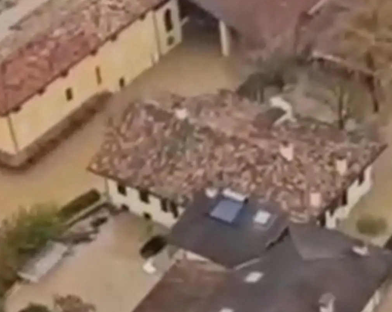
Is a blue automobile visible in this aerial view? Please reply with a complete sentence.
No, there is no blue automobile in the image.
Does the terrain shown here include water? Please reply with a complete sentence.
Yes, there is water in the image.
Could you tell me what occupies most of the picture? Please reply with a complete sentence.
What you mostly see from above here is buildings.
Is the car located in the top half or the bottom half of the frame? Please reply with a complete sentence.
The bottom half of the photo is where the car is.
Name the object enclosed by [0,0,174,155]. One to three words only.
barn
